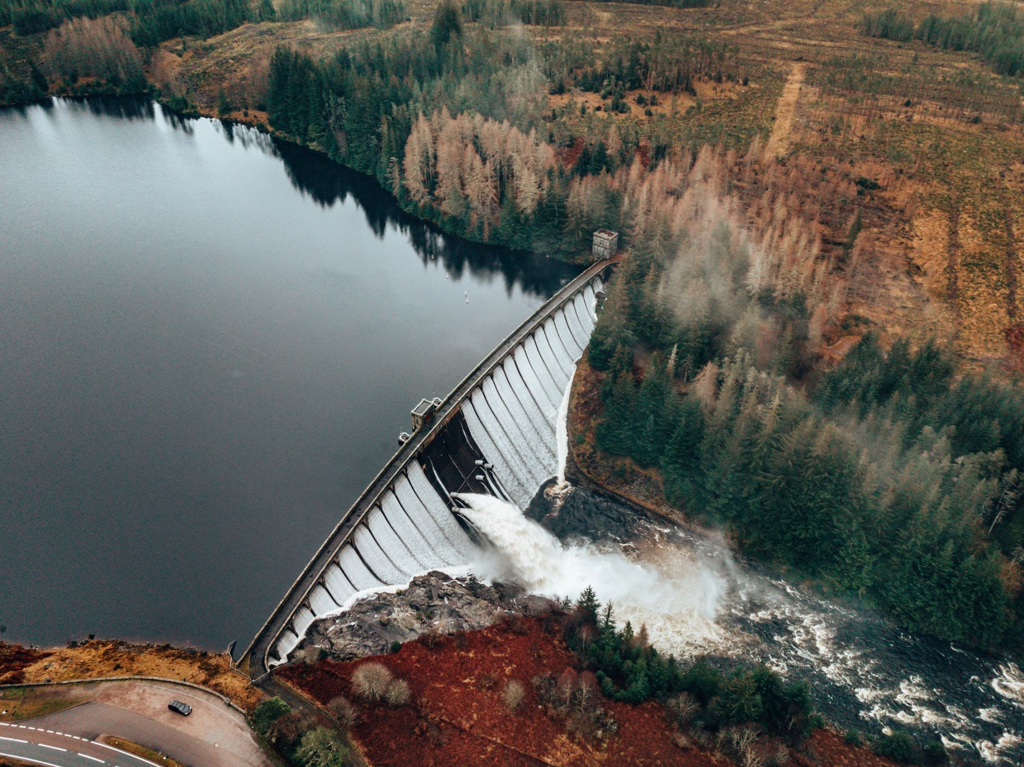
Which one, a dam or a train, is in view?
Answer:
dam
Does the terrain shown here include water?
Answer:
Yes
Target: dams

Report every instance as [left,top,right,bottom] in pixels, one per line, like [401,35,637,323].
[236,258,618,687]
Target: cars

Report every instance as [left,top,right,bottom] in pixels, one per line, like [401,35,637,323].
[167,703,191,719]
